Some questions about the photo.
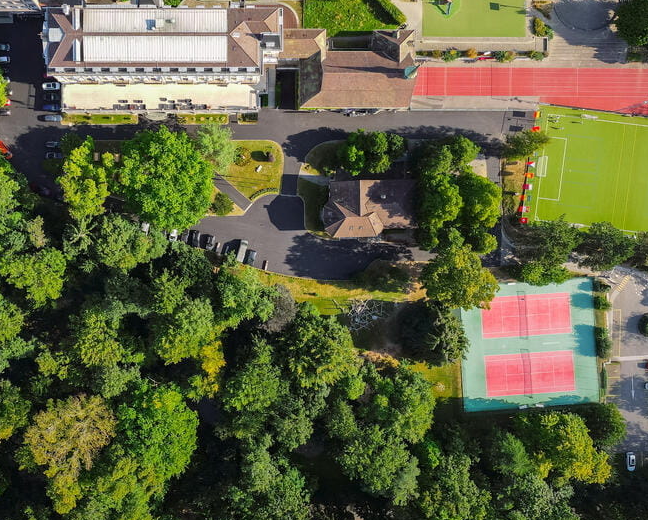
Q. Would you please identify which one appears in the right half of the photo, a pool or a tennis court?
tennis court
